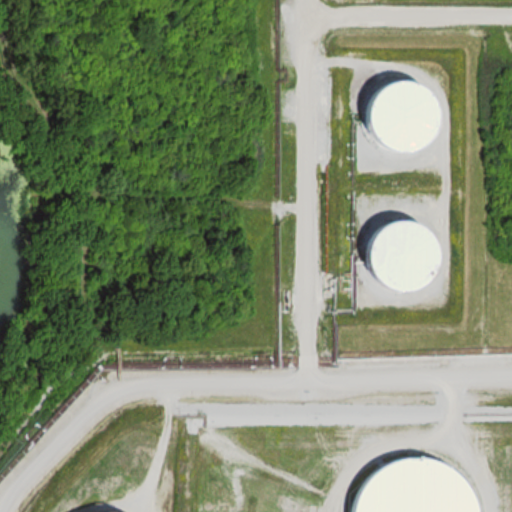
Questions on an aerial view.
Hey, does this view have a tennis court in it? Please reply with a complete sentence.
No, I can't see a single tennis court in this photo.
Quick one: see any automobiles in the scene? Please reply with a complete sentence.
No, the picture doesn't show any automobile.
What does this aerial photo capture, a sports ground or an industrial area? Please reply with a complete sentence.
It's an industrial area.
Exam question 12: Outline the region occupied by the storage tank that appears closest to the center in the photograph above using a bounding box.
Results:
[364,218,444,294]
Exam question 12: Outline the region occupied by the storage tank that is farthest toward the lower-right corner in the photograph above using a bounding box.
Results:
[352,456,480,512]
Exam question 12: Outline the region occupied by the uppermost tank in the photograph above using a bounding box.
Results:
[364,79,444,155]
